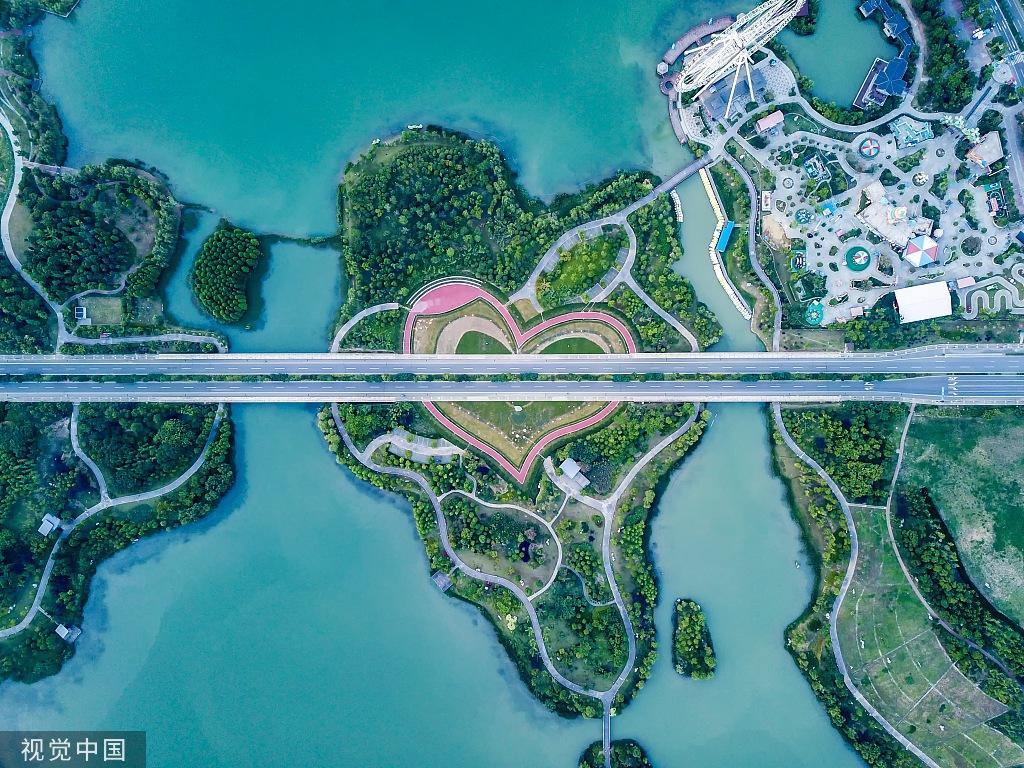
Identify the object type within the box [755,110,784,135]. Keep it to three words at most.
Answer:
building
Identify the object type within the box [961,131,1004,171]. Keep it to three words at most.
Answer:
building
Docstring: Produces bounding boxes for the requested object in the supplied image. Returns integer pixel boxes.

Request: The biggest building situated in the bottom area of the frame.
[559,458,587,489]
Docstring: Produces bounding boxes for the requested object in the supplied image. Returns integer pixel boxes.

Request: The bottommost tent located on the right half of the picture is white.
[889,281,952,325]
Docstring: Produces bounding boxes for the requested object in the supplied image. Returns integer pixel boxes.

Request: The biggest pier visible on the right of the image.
[662,14,736,66]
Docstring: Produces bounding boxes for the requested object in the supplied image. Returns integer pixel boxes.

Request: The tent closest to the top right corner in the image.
[899,235,938,268]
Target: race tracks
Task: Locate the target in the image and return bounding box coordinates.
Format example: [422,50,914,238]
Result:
[956,261,1024,320]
